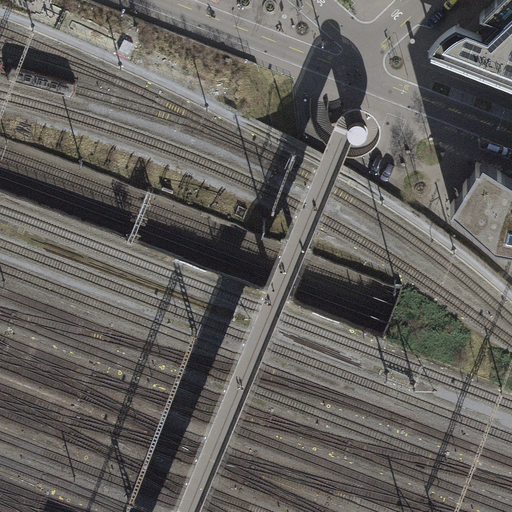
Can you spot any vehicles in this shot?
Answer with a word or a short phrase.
Yes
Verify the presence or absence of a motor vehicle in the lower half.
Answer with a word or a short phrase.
No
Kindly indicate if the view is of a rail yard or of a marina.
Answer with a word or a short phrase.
rail yard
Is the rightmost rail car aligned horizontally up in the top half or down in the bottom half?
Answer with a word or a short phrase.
top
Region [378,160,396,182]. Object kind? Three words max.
car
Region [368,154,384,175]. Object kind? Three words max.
car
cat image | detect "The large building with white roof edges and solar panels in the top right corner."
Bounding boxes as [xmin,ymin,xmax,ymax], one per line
[428,0,512,96]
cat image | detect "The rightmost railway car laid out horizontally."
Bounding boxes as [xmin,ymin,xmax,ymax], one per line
[4,66,78,94]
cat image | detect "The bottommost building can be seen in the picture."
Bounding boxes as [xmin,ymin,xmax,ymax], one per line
[448,156,512,268]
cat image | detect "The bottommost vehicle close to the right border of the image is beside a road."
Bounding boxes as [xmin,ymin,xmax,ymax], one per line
[486,142,510,156]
